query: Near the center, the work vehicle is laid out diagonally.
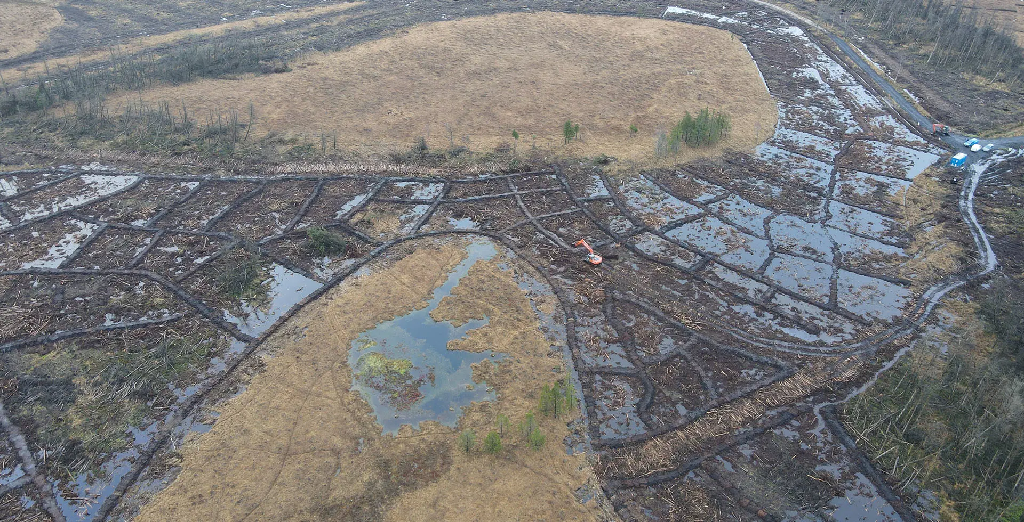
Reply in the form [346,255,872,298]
[574,236,605,267]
